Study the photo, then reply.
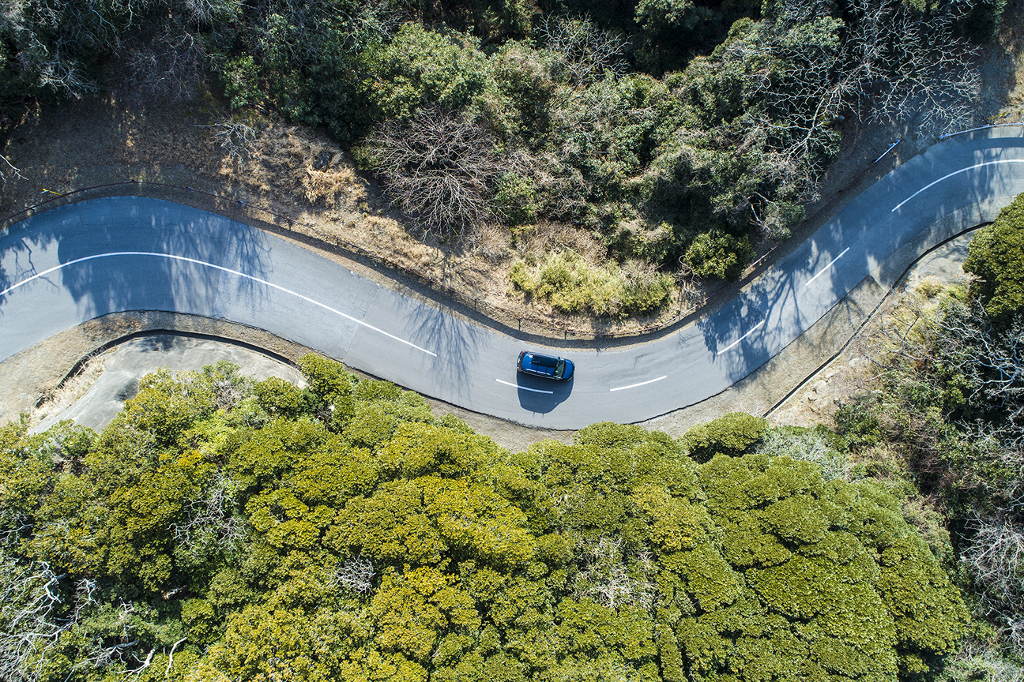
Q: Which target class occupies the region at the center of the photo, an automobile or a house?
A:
automobile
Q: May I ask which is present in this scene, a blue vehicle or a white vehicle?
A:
blue vehicle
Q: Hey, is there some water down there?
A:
No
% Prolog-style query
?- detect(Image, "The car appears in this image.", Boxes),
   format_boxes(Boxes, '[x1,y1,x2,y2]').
[517,352,574,381]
